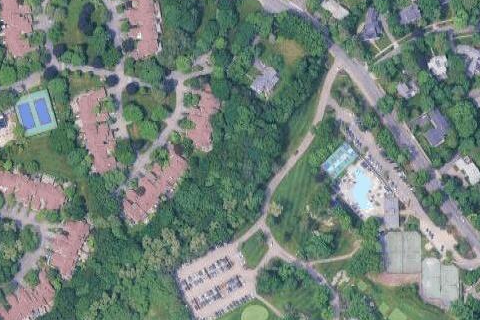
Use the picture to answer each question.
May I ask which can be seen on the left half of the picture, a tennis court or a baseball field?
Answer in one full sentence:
It is a tennis court that can be seen on the left half of the picture.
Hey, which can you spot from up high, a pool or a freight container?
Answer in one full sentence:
Visible in the photo is a pool.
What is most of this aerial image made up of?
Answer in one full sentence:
For the most part, this view shows trees.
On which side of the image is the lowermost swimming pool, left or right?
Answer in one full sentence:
You can find the lowermost swimming pool on the right side of the picture.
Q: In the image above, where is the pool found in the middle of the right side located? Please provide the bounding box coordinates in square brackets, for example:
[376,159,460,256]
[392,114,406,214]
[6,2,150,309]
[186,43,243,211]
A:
[340,160,386,221]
